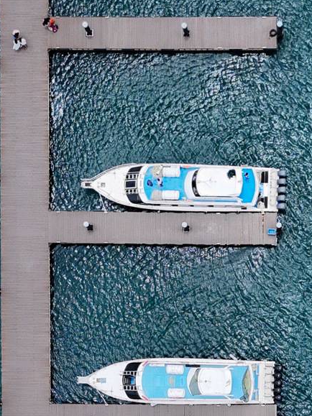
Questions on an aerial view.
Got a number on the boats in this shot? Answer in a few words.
2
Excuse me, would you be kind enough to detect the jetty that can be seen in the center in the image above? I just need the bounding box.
[51,212,279,249]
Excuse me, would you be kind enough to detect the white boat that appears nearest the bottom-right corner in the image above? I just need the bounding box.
[78,354,282,405]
